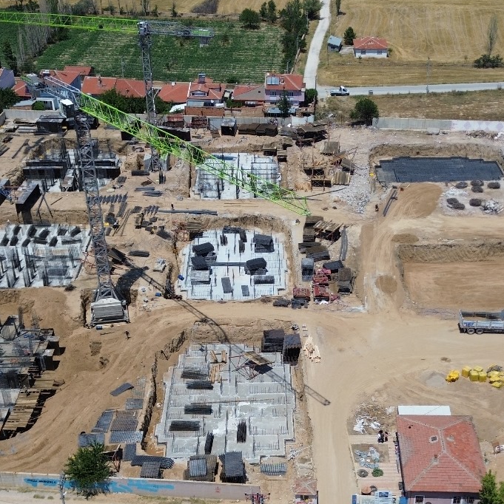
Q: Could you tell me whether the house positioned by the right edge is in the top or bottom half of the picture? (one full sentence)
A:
The house positioned by the right edge sits in the bottom half of the picture.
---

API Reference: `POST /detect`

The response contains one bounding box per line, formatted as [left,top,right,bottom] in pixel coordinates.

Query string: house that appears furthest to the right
[385,414,488,504]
